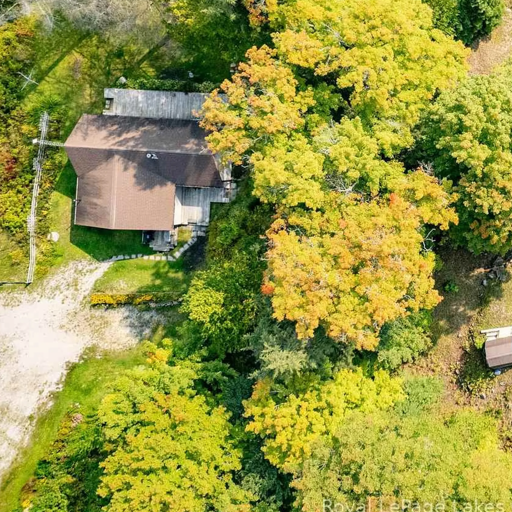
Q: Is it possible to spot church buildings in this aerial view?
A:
No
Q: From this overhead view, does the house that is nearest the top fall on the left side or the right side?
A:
left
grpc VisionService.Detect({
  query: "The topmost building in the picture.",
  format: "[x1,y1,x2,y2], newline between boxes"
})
[64,114,230,230]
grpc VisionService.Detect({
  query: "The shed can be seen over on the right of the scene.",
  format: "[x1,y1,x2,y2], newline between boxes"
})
[486,328,512,367]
